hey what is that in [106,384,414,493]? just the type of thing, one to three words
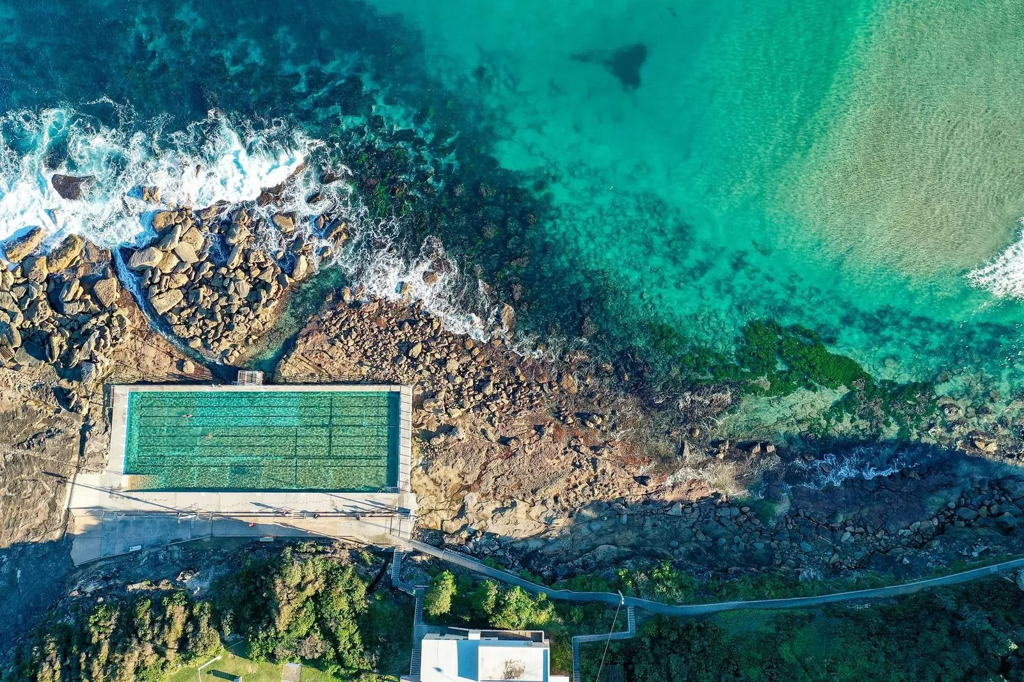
swimming pool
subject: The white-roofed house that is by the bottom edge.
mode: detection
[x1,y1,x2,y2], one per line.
[419,617,569,682]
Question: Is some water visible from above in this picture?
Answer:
Yes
